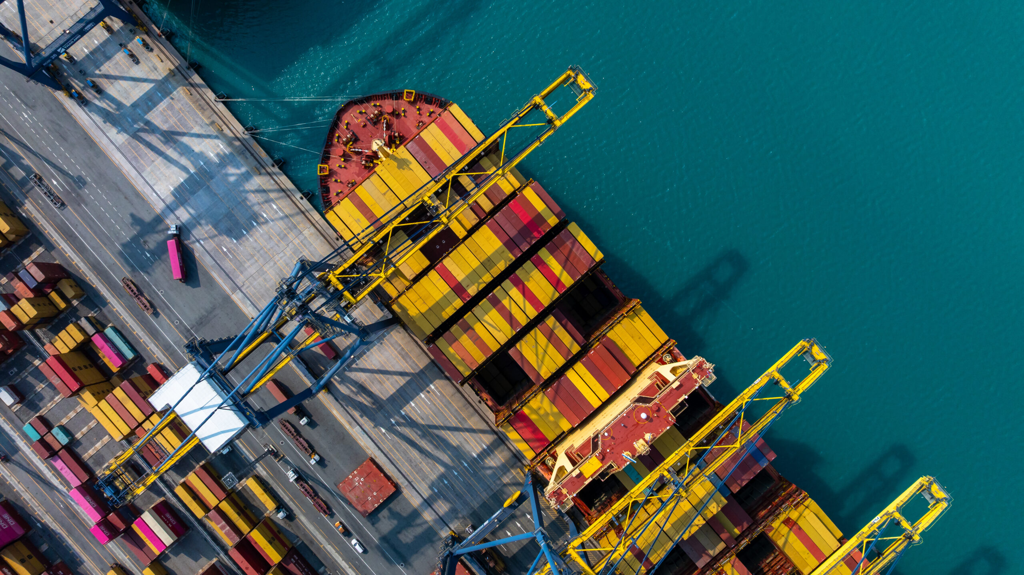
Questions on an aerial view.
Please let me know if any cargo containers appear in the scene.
Yes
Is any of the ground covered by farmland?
No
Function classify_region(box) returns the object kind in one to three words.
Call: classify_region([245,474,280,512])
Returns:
shipping container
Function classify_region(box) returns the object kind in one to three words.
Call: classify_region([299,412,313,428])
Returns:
vehicle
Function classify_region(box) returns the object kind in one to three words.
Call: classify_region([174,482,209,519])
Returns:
shipping container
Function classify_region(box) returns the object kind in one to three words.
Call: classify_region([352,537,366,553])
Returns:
car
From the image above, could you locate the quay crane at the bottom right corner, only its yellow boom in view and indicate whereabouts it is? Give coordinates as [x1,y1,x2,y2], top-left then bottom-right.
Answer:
[803,472,954,575]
